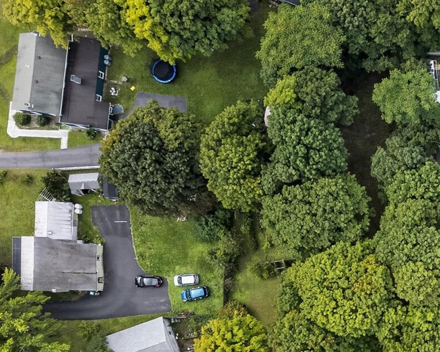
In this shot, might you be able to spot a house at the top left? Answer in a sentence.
Yes, you'll find a house at the top left.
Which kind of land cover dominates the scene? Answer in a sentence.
Most of the picture is covered by trees.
